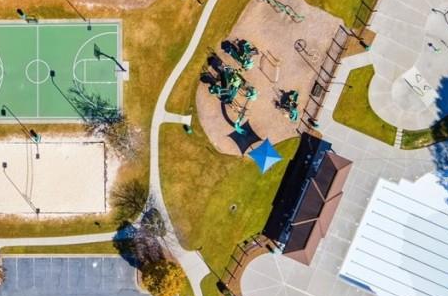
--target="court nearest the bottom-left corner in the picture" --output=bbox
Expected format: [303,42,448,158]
[0,141,106,214]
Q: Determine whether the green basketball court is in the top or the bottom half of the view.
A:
top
